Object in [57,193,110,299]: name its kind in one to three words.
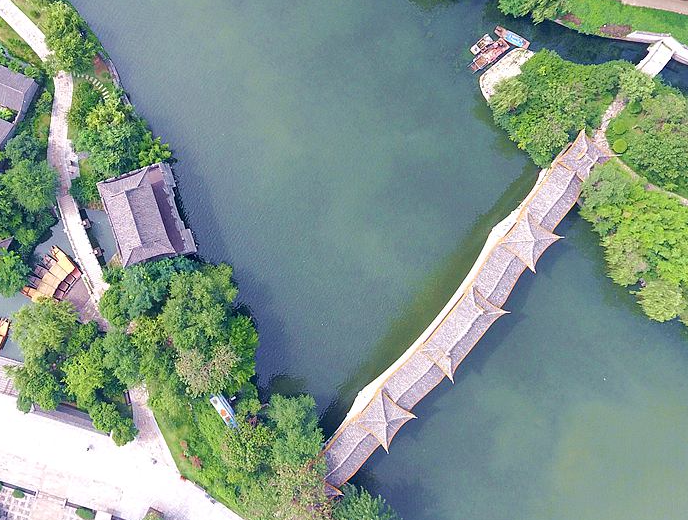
bridge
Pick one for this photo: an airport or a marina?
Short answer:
marina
